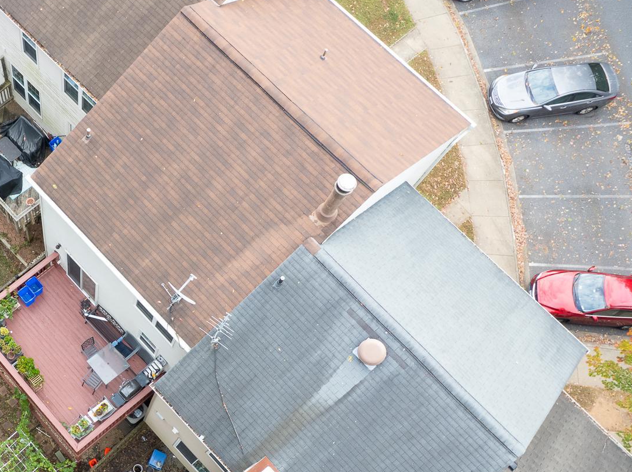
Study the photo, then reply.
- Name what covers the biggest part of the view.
buildings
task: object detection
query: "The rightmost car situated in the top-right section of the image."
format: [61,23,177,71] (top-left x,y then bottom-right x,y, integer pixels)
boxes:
[486,61,626,125]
